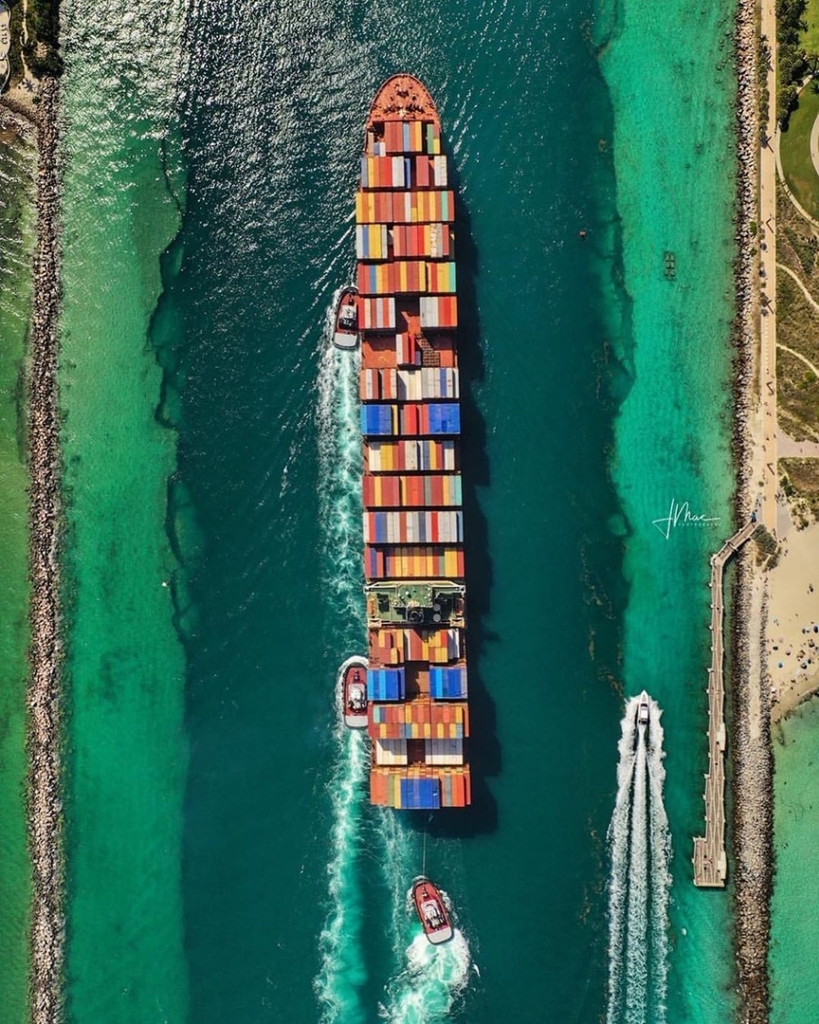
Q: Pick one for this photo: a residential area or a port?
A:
port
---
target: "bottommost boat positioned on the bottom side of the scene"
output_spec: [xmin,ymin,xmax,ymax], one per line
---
[413,875,452,946]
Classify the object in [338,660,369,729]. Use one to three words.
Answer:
boat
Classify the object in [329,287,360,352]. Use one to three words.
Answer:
boat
